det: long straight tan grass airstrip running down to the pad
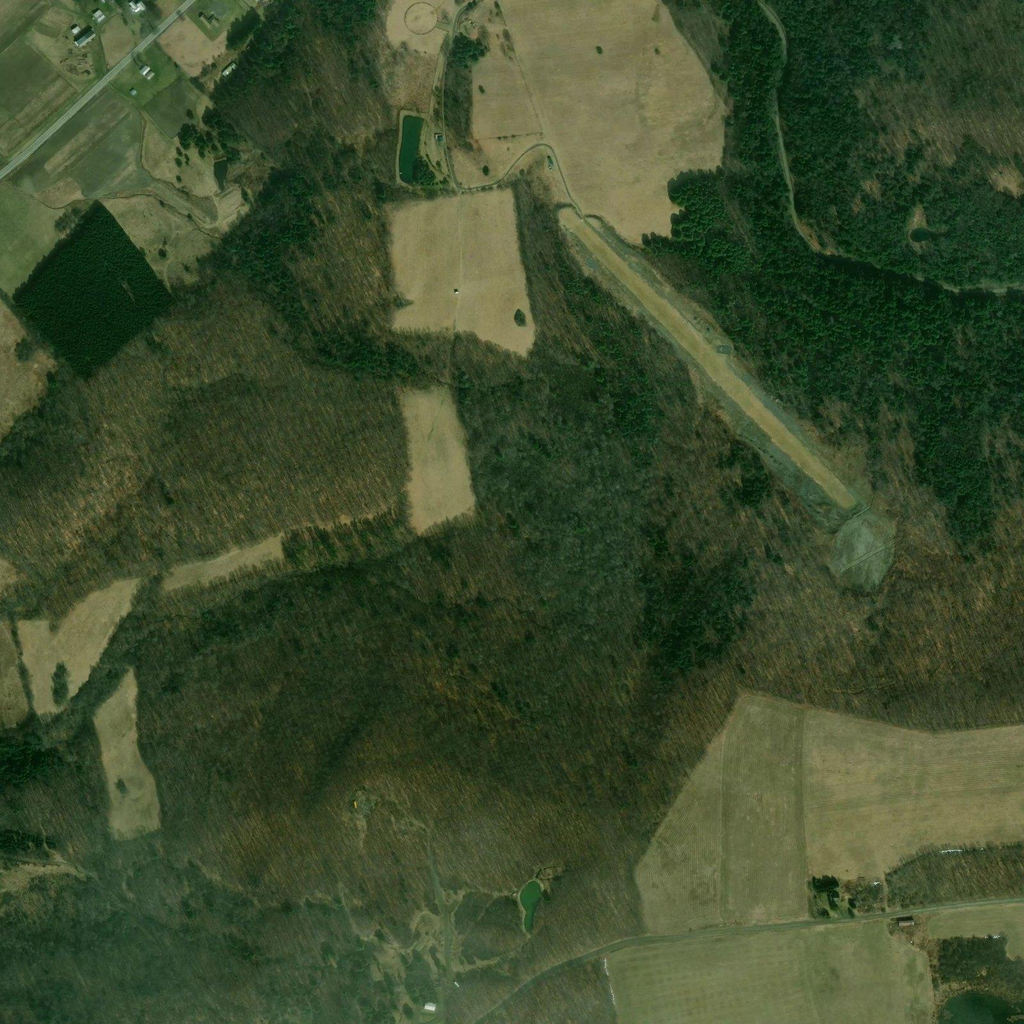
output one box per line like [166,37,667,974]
[559,207,854,508]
